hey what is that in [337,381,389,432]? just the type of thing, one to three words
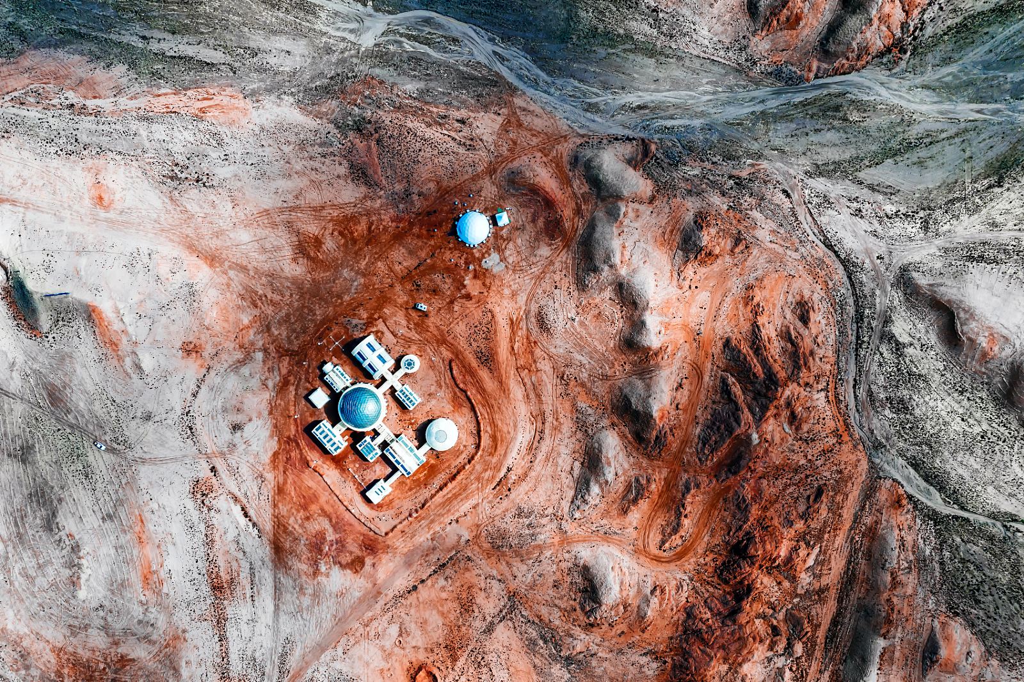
building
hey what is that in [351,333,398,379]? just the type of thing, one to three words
hangar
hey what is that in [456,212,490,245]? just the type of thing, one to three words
tent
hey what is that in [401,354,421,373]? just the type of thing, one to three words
building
